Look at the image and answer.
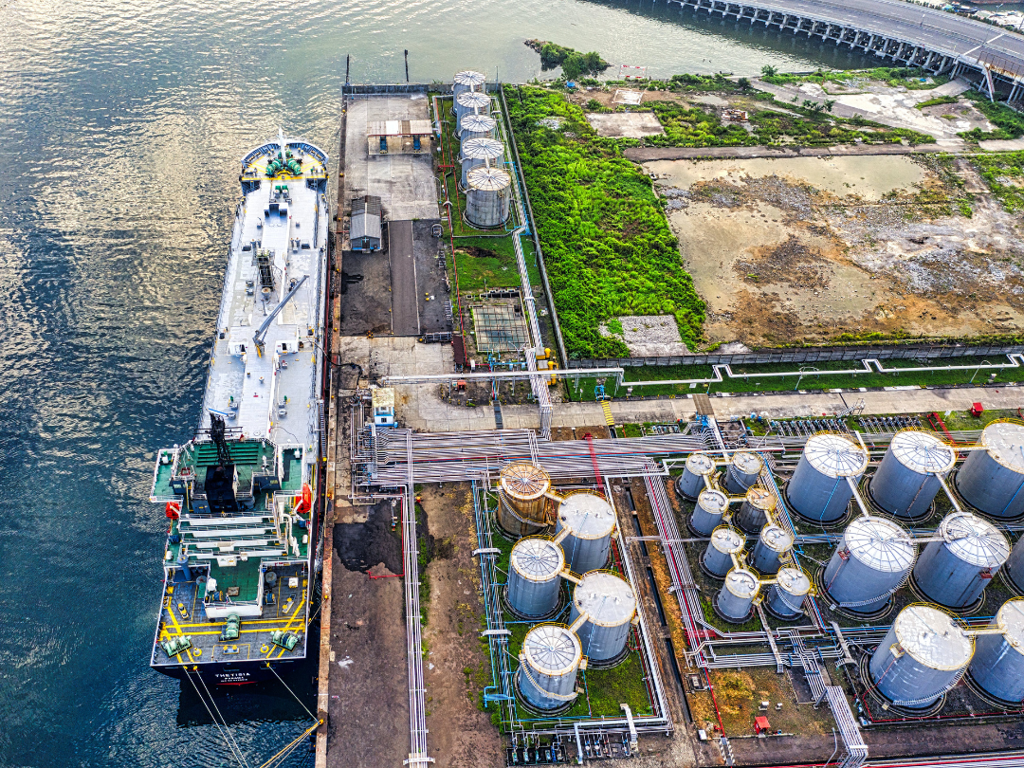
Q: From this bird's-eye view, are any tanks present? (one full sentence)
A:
Yes, there's a tank here.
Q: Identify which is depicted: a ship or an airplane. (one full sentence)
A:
The one in the frame is a ship.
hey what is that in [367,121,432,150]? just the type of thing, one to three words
shed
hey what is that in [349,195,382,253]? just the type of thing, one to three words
house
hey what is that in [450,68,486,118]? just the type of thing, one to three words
storage tank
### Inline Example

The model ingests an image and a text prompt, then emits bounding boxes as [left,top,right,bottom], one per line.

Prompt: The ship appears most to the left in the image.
[149,118,330,685]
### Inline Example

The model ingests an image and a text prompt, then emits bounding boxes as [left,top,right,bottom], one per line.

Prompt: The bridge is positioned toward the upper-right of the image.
[604,0,1024,91]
